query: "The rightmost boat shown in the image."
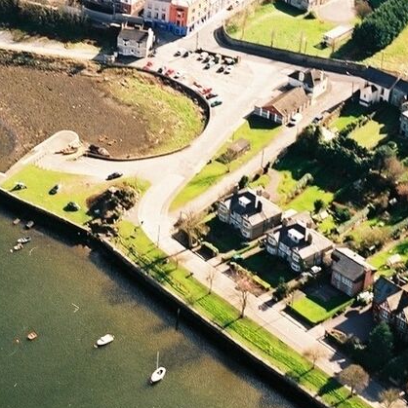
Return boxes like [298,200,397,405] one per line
[151,368,165,383]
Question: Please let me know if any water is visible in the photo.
Yes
